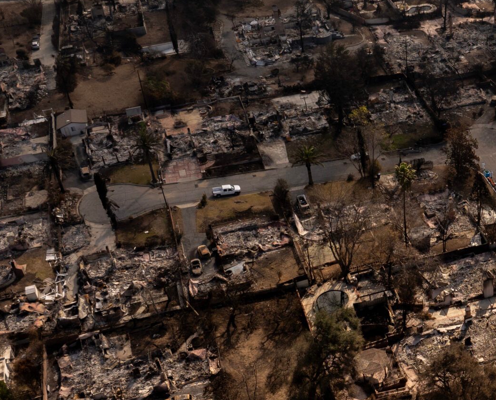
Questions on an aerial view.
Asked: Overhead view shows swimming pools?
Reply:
Yes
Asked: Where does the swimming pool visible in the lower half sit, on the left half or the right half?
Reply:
right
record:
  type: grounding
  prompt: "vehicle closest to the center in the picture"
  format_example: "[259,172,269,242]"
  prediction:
[211,186,241,199]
